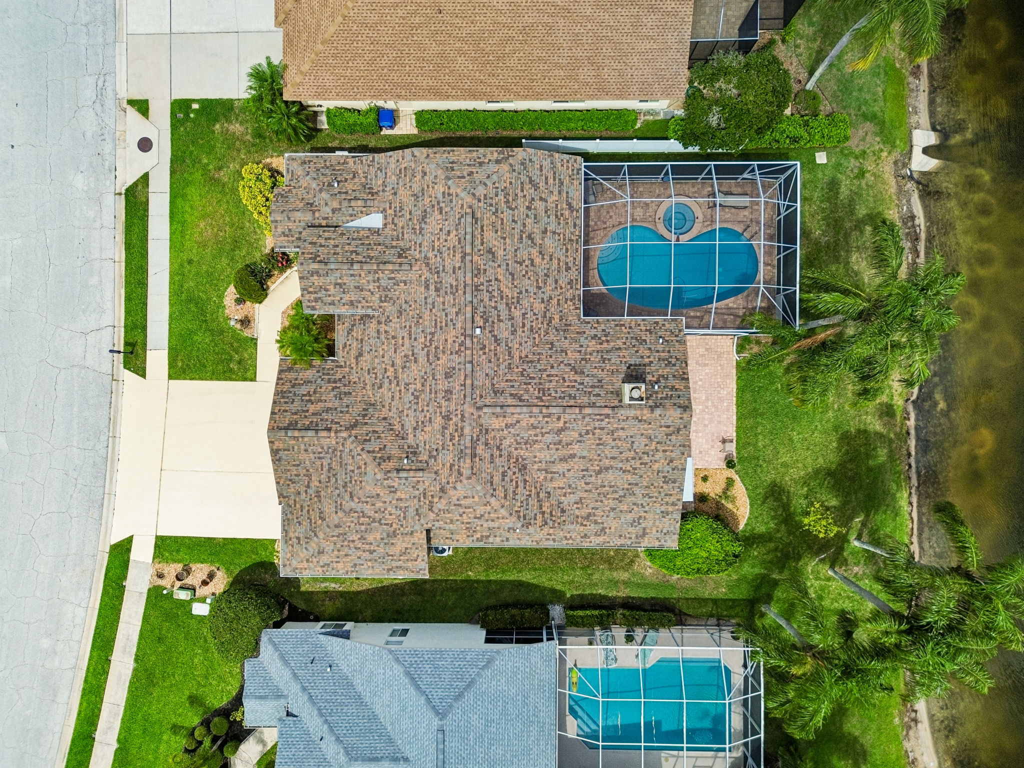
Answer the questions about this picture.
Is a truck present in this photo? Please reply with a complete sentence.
No, the photo shows no truck.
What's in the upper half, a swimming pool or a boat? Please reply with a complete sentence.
The one visible in the upper half is a swimming pool.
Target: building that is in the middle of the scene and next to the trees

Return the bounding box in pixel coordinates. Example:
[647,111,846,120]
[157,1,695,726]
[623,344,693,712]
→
[268,148,695,578]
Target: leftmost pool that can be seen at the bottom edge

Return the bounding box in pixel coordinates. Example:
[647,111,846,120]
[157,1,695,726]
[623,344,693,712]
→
[565,654,734,755]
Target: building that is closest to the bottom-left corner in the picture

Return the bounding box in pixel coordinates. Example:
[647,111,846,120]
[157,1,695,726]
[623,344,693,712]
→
[242,621,558,768]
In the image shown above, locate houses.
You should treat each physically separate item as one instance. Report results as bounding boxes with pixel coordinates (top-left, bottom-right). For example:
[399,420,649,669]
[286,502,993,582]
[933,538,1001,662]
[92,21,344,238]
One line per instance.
[268,148,695,578]
[275,0,693,109]
[242,621,558,768]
